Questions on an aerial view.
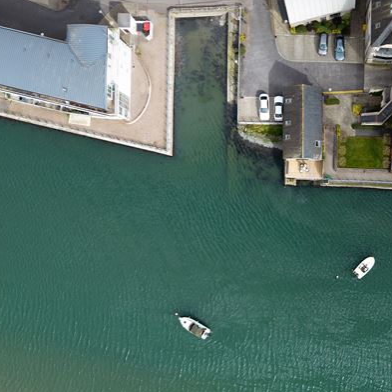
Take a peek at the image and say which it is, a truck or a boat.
boat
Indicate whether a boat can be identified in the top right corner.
No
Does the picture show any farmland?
No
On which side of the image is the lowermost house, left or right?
right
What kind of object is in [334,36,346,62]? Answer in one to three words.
vehicle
